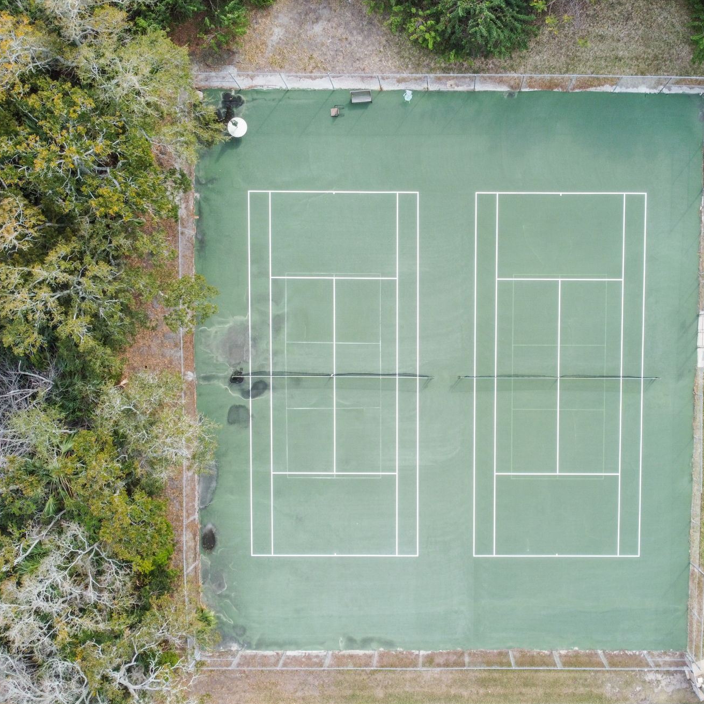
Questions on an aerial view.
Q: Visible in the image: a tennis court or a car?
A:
tennis court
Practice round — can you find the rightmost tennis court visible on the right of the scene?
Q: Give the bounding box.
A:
[472,90,704,652]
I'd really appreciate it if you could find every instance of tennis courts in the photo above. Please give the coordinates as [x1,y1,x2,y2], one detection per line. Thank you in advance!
[472,90,704,652]
[194,89,475,652]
